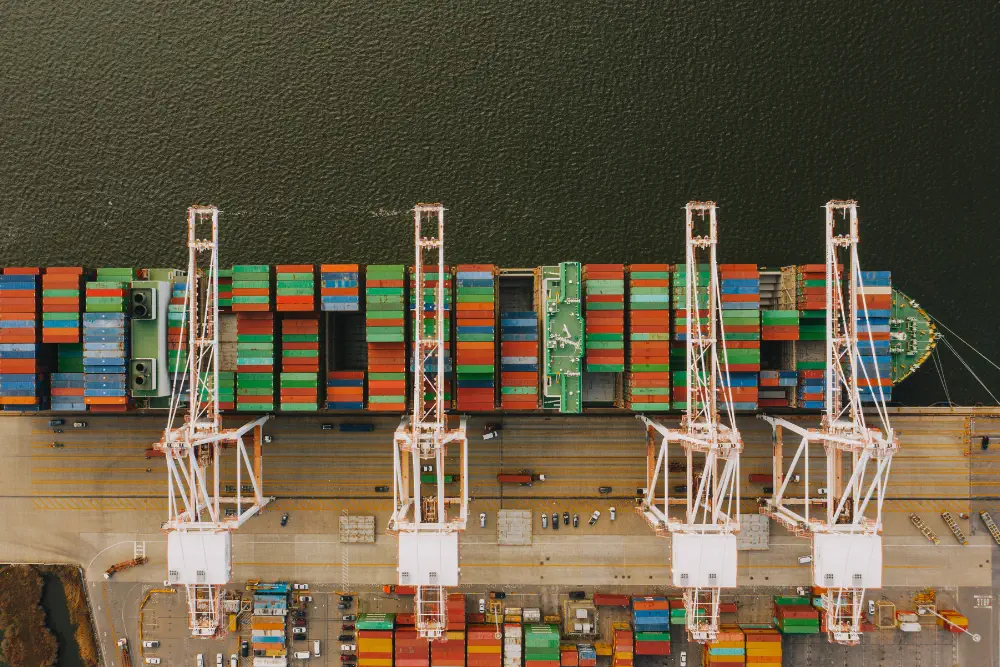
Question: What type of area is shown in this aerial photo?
port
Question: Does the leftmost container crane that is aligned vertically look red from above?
No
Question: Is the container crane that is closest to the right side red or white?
white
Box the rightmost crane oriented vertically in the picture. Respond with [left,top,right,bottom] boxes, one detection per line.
[754,200,901,642]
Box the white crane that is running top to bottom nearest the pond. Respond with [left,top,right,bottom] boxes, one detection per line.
[155,206,277,642]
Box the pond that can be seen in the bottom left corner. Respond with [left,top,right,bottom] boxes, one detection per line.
[42,566,78,667]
